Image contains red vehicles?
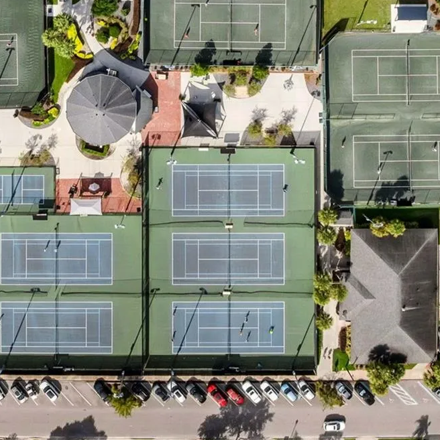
Yes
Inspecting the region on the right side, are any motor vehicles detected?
Yes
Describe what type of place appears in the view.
sports ground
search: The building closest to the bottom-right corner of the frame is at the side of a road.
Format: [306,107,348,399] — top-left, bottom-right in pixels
[337,229,437,364]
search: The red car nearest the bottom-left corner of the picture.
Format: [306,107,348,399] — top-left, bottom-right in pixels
[206,383,226,405]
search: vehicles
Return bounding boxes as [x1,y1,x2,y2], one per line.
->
[9,382,28,404]
[260,381,279,402]
[185,381,205,403]
[130,381,149,402]
[322,420,346,432]
[24,381,41,401]
[151,381,170,403]
[354,381,375,404]
[279,380,298,402]
[167,380,186,403]
[298,379,316,402]
[0,386,6,400]
[40,379,60,402]
[242,381,261,403]
[334,380,354,402]
[91,379,111,402]
[226,386,244,405]
[206,383,226,405]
